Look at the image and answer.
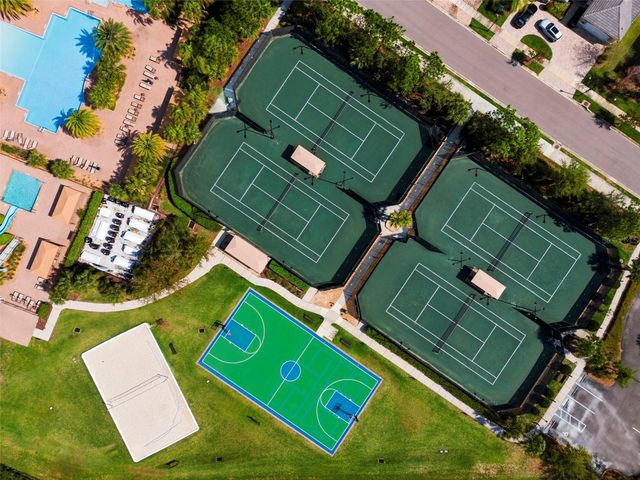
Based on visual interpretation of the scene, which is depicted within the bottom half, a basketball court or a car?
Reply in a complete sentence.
The feature located within the bottom half is a basketball court.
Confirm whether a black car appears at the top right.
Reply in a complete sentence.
Yes, a black car can be seen at the top right.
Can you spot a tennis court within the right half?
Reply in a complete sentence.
Yes, I can see a tennis court within the right half.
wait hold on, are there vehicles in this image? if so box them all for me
[511,4,536,29]
[538,21,564,42]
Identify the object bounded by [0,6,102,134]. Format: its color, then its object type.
blue swimming pool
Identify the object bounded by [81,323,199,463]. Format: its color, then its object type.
white sports court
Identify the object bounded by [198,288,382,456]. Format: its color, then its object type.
green basketball court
